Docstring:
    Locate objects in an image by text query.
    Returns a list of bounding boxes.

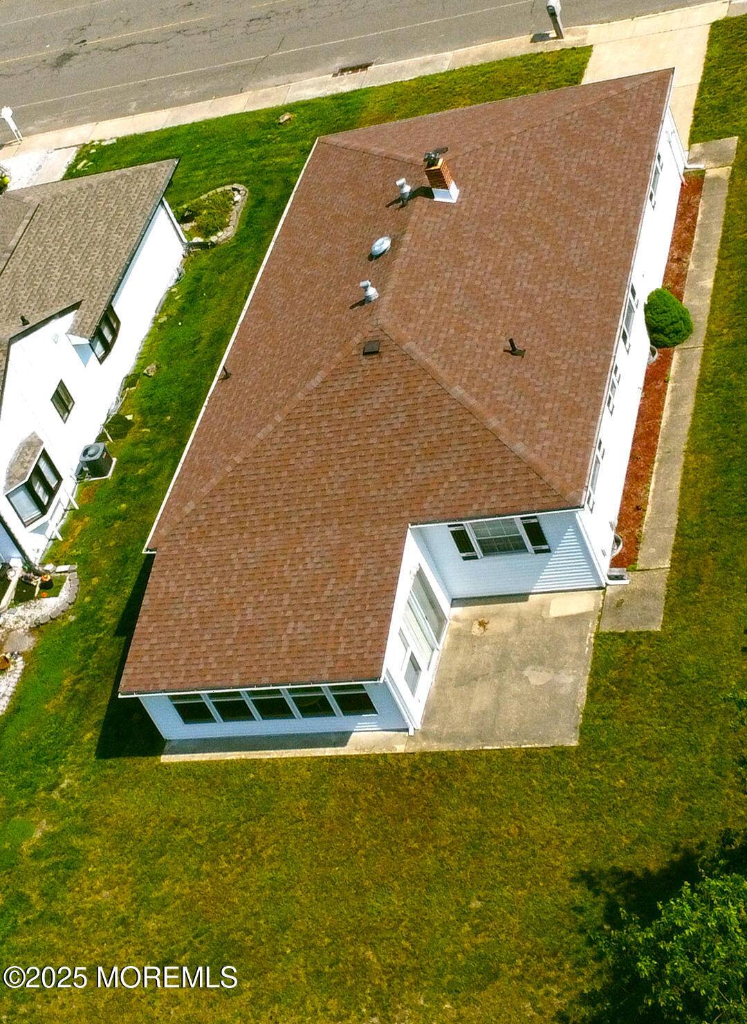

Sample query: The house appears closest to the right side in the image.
[118,69,709,741]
